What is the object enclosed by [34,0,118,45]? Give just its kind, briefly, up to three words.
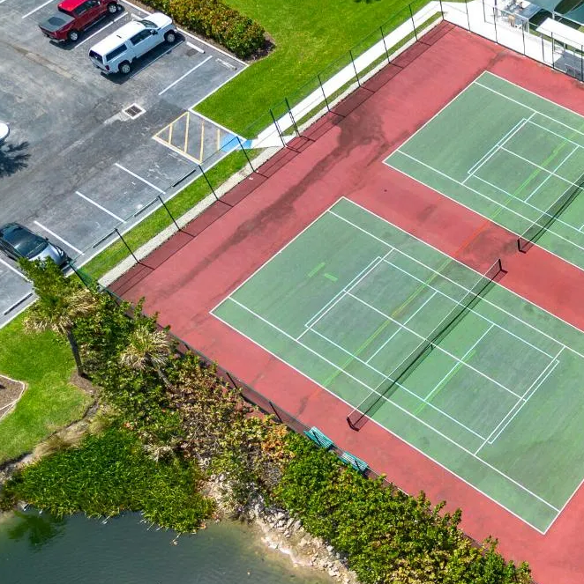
truck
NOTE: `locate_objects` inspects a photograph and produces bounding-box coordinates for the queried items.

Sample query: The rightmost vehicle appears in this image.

[87,16,174,78]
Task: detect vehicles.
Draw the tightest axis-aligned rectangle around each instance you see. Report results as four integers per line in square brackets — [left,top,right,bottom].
[34,0,118,45]
[0,221,67,275]
[87,16,174,78]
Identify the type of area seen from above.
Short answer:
sports ground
